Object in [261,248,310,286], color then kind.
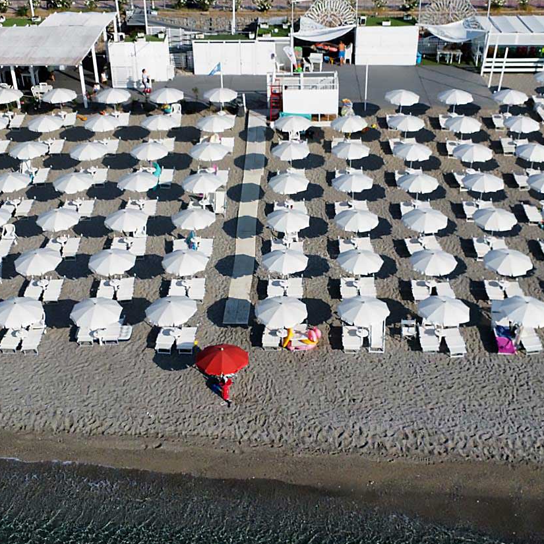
white umbrella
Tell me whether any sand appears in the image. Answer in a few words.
Yes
